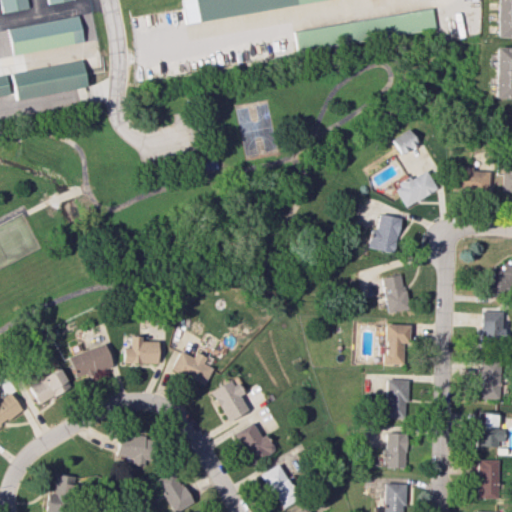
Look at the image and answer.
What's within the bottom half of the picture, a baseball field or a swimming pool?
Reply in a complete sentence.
Looking within the bottom half of the picture, you will find a swimming pool.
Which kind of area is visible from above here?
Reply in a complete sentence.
The picture captures a residential area.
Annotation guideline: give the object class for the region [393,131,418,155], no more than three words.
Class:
building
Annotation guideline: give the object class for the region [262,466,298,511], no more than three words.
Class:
house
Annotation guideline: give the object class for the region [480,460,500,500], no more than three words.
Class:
house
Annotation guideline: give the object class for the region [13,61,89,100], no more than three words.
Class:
shed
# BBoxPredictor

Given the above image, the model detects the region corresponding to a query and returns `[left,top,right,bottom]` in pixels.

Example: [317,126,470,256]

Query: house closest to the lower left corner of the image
[46,476,76,512]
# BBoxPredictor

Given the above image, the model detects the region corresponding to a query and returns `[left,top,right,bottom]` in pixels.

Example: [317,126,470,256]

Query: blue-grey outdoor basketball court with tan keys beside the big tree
[235,100,280,160]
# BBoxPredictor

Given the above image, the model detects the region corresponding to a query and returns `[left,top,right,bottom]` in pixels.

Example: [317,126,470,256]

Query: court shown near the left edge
[0,212,39,266]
